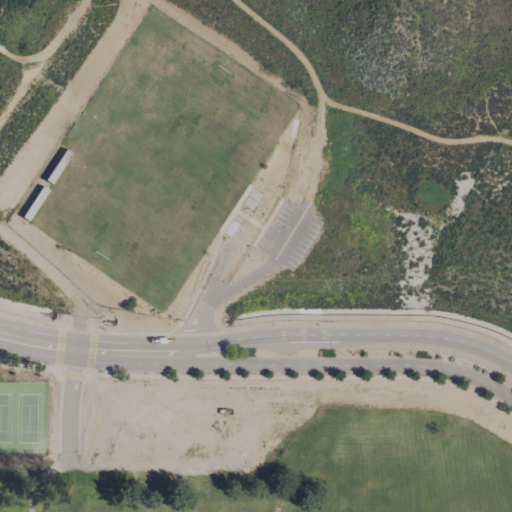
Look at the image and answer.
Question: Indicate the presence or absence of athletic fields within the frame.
Yes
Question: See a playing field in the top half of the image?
Yes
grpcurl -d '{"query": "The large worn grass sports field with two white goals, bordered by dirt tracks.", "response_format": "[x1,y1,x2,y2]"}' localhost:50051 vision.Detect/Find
[32,7,300,312]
